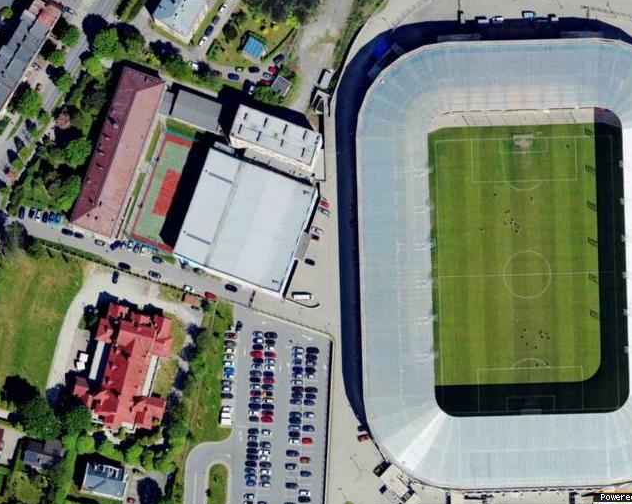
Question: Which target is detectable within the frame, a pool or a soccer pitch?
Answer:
soccer pitch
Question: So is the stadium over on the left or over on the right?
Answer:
right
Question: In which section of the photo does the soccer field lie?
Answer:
right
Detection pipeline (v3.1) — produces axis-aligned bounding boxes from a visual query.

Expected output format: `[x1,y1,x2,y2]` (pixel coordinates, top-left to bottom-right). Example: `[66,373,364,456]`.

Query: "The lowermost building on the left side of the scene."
[81,462,127,501]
